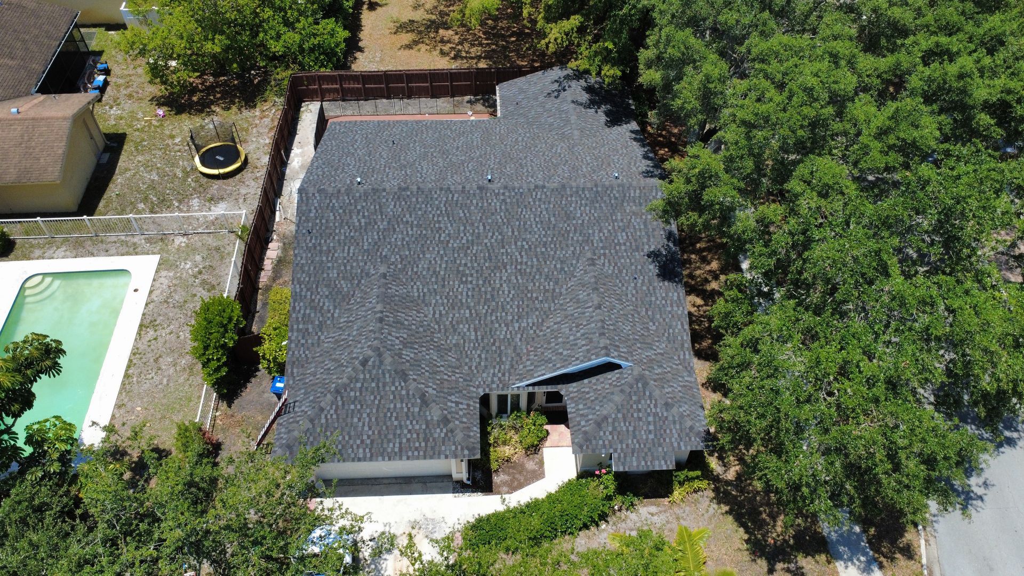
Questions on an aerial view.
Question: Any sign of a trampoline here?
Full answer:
Yes, the picture does show a trampoline.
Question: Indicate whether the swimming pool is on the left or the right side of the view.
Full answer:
It is on the left.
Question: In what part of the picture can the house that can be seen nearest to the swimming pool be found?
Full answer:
The house that can be seen nearest to the swimming pool sits in the top left section of the image.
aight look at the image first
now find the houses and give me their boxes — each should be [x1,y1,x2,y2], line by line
[270,63,709,496]
[0,0,114,213]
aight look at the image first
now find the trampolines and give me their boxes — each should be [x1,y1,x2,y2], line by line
[181,113,248,183]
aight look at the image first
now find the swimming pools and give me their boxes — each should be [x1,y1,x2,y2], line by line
[0,270,131,472]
